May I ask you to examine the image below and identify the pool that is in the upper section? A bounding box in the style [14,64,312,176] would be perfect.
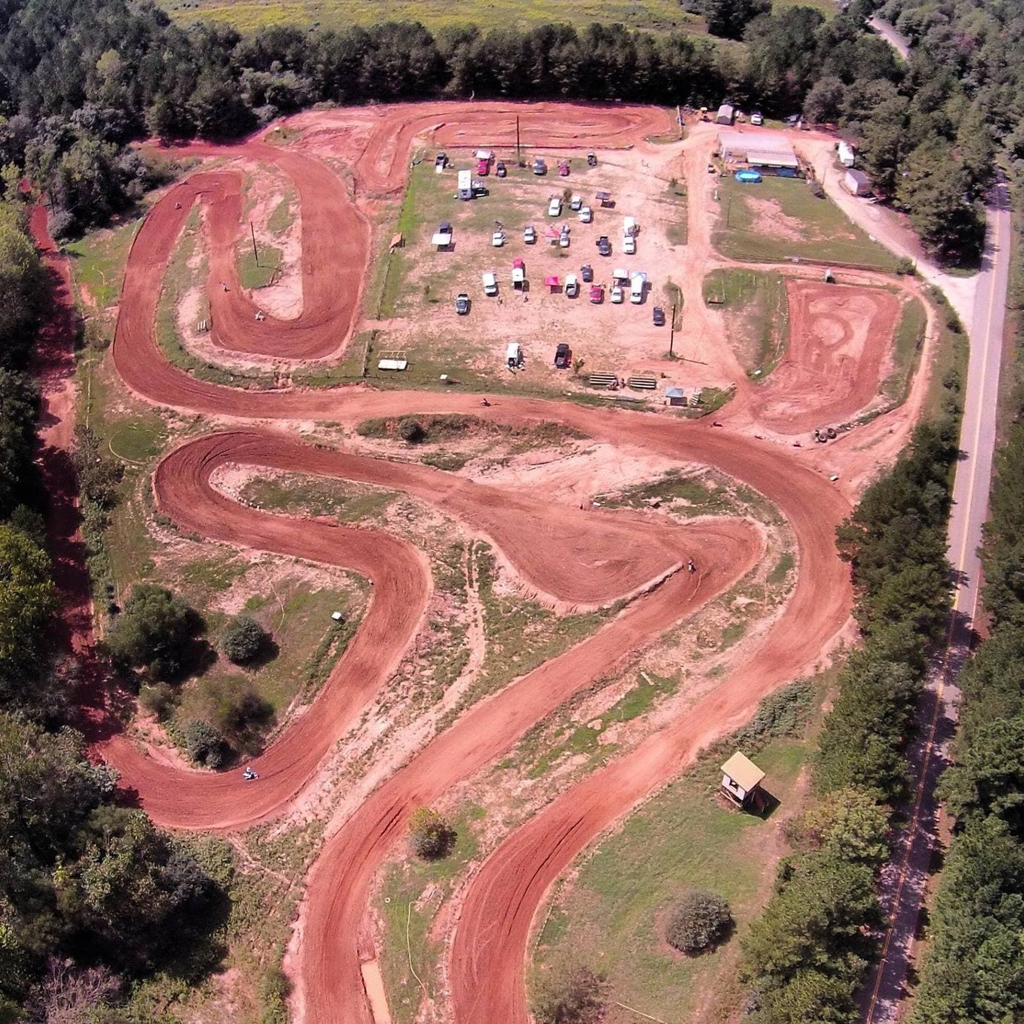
[736,172,761,185]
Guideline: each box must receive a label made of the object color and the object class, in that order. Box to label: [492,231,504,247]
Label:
white vehicle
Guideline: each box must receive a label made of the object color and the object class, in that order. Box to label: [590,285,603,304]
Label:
red vehicle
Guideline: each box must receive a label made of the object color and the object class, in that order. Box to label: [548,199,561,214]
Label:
white vehicle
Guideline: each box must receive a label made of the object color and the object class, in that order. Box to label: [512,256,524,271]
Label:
red vehicle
